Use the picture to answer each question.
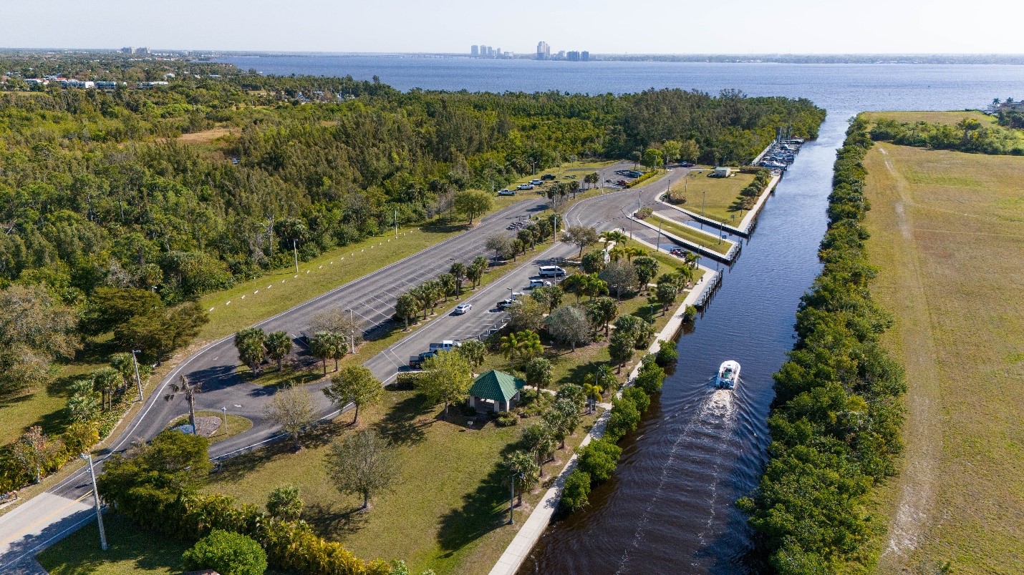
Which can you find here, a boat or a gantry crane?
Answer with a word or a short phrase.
boat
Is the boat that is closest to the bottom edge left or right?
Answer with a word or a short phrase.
right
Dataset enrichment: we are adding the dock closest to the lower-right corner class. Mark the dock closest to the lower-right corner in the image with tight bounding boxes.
[694,272,727,310]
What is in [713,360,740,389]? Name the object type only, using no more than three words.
boat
